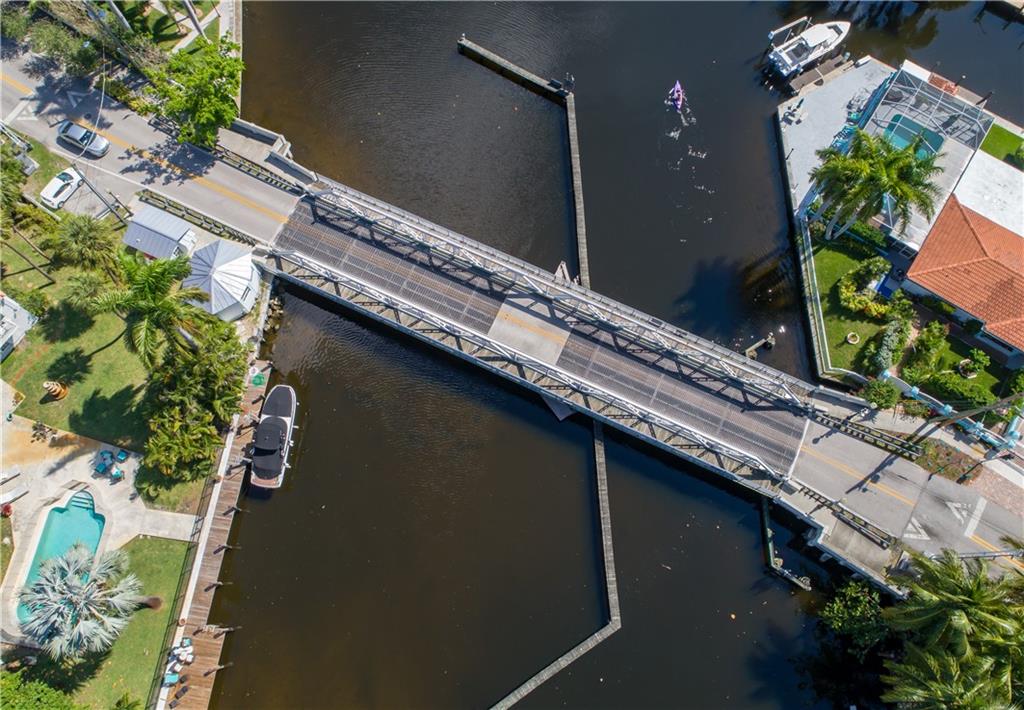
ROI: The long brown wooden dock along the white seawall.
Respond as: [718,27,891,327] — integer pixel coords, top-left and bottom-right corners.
[160,357,274,710]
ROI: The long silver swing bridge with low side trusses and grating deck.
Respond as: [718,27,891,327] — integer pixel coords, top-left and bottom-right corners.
[253,168,879,519]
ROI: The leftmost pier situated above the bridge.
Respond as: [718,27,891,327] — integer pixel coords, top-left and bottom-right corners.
[790,51,851,96]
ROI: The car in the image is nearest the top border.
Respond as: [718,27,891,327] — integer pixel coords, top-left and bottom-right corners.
[56,123,110,157]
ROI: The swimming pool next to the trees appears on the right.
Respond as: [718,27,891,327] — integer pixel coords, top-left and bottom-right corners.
[882,112,946,161]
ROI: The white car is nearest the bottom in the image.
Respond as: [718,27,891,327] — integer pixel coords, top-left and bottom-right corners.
[37,170,87,208]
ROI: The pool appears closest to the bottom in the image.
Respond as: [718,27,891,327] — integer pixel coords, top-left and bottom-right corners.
[14,489,107,628]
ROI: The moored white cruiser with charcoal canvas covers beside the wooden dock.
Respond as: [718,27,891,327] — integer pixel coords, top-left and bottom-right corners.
[247,385,297,487]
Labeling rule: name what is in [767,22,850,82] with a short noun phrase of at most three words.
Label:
boat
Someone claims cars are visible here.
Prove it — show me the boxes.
[56,123,110,157]
[37,170,87,208]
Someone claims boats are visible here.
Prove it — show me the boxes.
[247,385,297,487]
[767,22,850,82]
[675,80,682,110]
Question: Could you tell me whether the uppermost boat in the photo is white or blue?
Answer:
white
